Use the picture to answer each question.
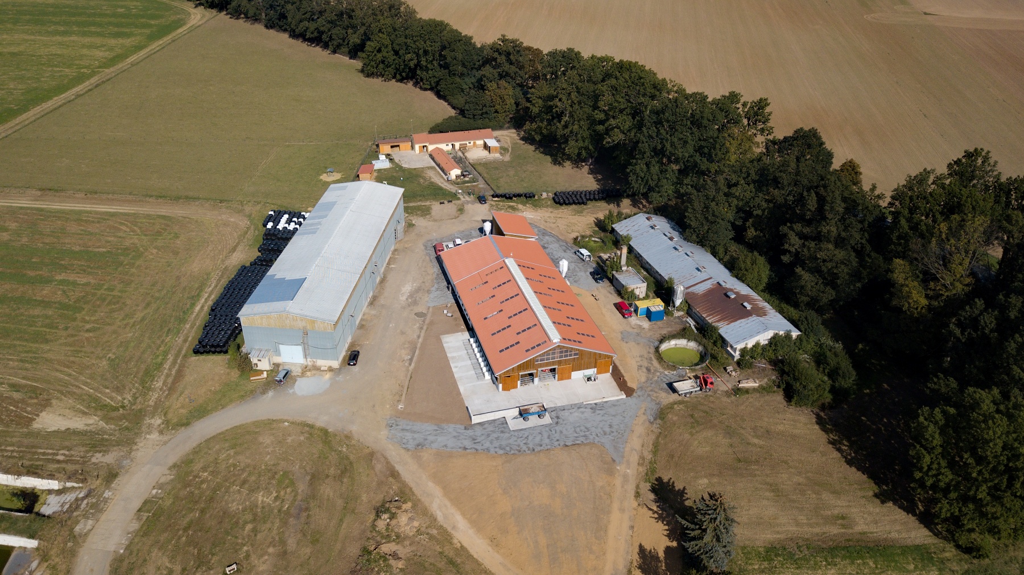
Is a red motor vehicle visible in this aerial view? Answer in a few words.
Yes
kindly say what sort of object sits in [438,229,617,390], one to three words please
barn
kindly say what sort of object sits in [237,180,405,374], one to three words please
hangar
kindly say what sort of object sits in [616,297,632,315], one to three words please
vehicle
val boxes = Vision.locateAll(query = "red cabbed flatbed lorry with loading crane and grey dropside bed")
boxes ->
[676,372,717,394]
